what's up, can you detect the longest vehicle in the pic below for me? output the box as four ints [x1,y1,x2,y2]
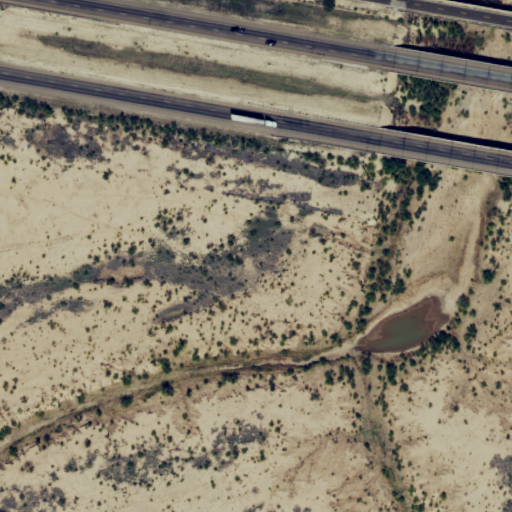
[230,114,276,126]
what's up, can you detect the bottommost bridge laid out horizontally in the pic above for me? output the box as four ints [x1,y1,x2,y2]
[379,128,512,178]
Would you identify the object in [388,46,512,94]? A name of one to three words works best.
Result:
bridge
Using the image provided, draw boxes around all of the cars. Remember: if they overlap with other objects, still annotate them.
[230,27,240,32]
[266,40,276,46]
